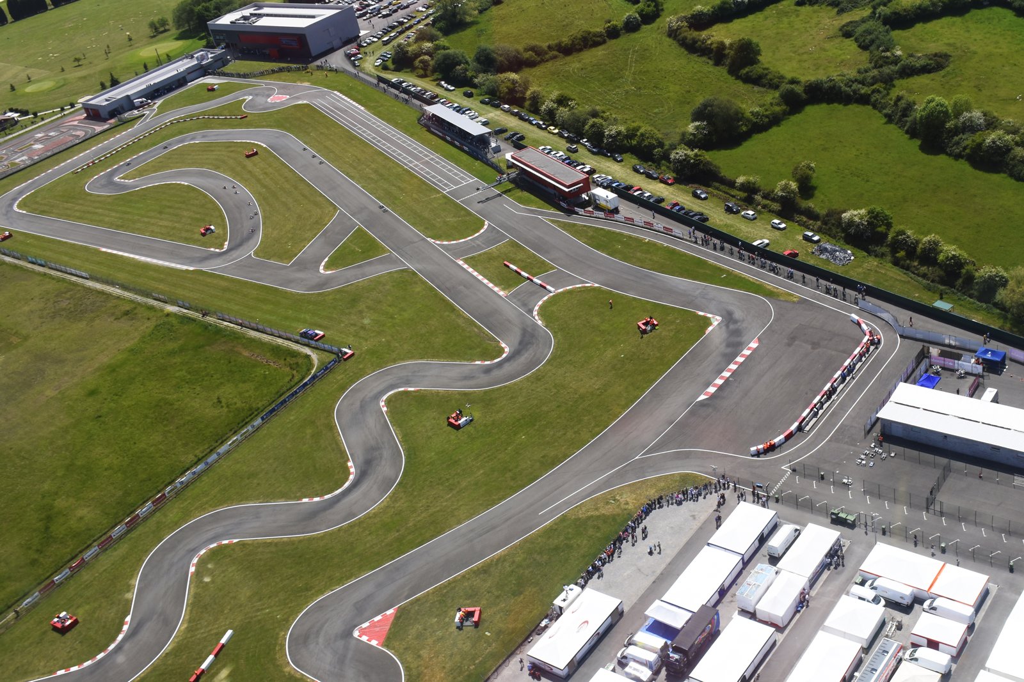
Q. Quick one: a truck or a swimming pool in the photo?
truck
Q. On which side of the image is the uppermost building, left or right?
left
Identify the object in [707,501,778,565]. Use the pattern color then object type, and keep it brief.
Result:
white tent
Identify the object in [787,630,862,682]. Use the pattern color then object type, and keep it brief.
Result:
white tent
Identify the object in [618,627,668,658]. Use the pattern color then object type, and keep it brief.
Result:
white van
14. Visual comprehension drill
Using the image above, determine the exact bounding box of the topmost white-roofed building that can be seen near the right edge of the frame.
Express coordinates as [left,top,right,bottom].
[877,383,1024,465]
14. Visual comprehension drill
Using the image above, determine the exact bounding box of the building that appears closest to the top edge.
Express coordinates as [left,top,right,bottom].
[207,3,355,56]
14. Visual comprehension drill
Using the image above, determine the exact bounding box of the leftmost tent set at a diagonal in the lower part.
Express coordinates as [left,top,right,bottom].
[527,587,622,680]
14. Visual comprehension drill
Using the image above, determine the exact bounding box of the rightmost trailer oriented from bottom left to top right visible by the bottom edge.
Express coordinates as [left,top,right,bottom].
[855,623,906,682]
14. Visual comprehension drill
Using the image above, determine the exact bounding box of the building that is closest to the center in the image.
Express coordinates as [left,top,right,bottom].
[503,147,592,210]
